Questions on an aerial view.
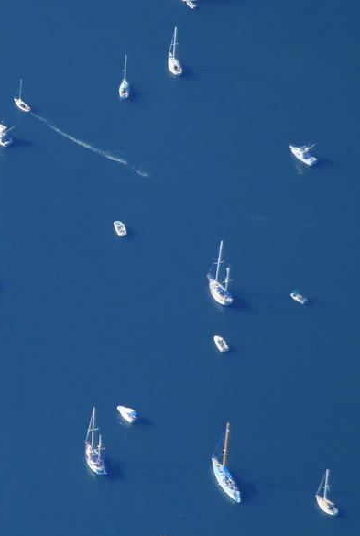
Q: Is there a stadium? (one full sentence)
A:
No, no stadium is visible in the view.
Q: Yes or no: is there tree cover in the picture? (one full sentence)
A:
No, tree cover can't be seen anywhere here.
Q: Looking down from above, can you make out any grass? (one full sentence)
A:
No, there's no grass in this view.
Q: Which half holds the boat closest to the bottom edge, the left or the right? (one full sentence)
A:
It is on the right.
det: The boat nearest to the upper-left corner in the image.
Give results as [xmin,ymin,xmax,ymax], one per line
[14,81,31,112]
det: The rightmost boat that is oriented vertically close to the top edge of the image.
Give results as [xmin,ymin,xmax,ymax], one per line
[168,26,183,74]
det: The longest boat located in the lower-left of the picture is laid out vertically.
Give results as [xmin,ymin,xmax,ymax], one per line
[85,408,107,476]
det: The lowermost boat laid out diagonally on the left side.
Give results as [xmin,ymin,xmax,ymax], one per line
[117,406,136,425]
